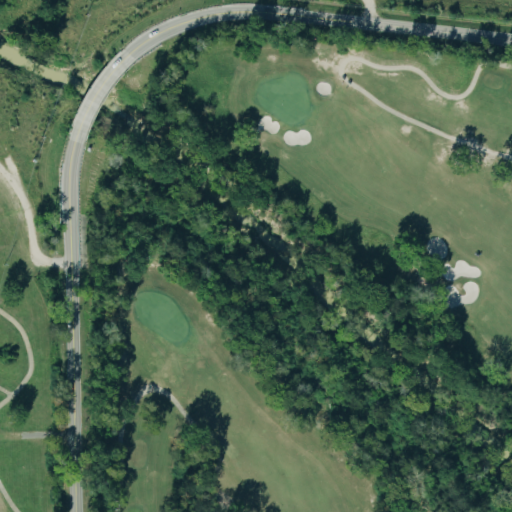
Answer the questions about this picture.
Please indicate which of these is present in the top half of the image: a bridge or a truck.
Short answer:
bridge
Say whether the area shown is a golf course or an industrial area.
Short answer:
golf course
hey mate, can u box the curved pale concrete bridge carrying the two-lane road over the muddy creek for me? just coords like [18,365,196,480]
[70,48,135,142]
